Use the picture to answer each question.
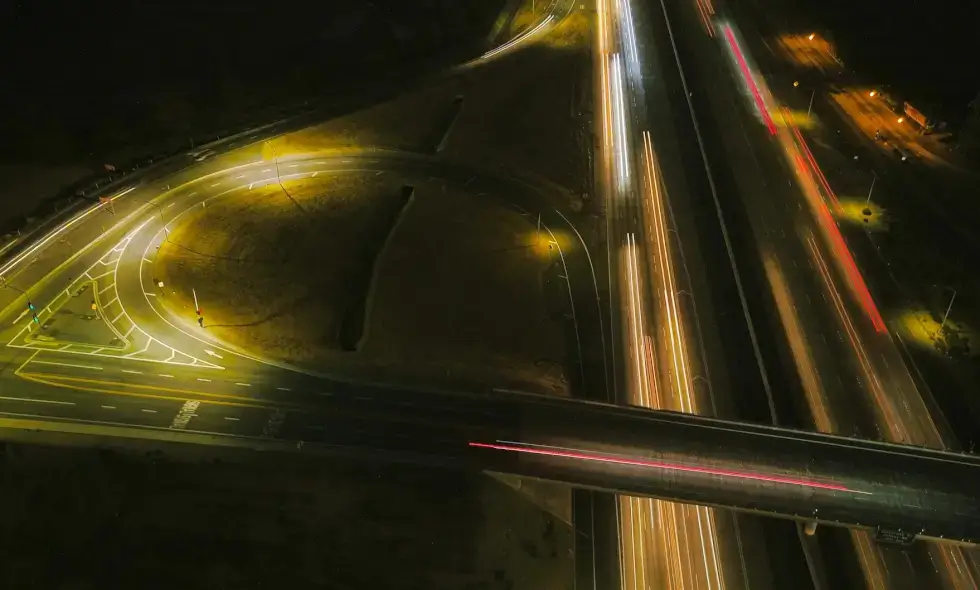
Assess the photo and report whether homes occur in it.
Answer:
No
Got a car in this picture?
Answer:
No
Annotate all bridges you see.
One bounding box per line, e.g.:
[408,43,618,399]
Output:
[473,388,980,558]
